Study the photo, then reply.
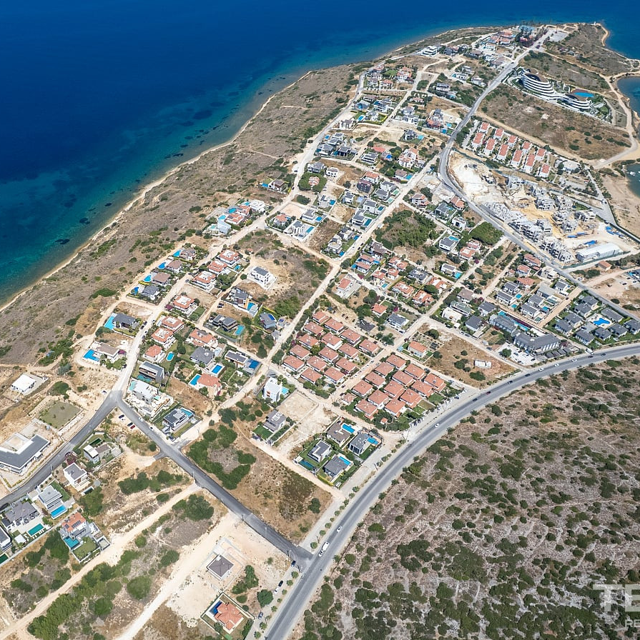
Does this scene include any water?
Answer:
Yes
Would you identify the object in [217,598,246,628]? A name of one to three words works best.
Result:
house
